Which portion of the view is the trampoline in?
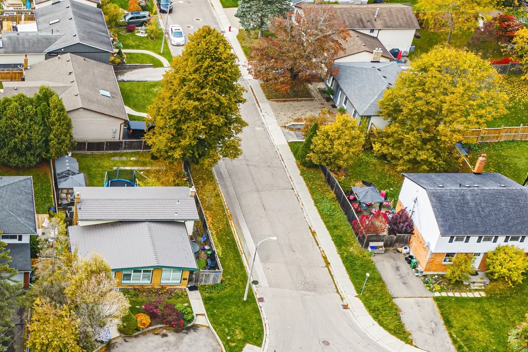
left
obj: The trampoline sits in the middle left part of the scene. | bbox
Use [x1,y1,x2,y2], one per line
[105,164,141,187]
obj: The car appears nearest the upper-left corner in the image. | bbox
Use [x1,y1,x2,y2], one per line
[121,9,155,24]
